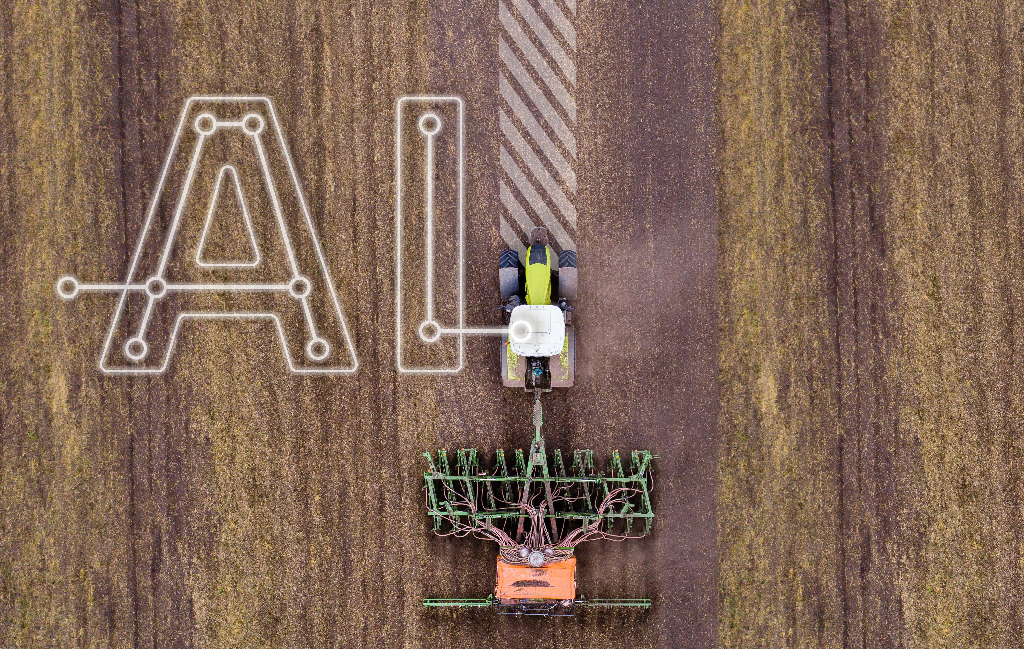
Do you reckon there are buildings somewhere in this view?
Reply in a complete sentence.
No, no building is visible in the scene.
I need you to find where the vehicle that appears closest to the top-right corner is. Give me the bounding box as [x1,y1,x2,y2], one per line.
[498,228,578,391]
